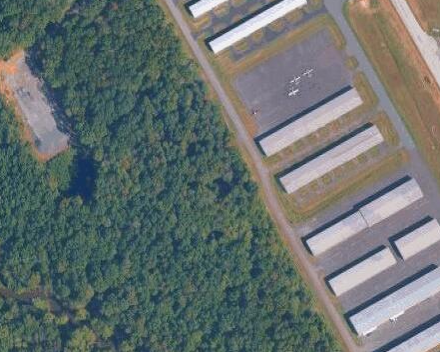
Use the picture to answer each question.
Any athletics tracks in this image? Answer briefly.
No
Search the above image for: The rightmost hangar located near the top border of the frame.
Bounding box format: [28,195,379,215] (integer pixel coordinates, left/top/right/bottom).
[209,0,307,54]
